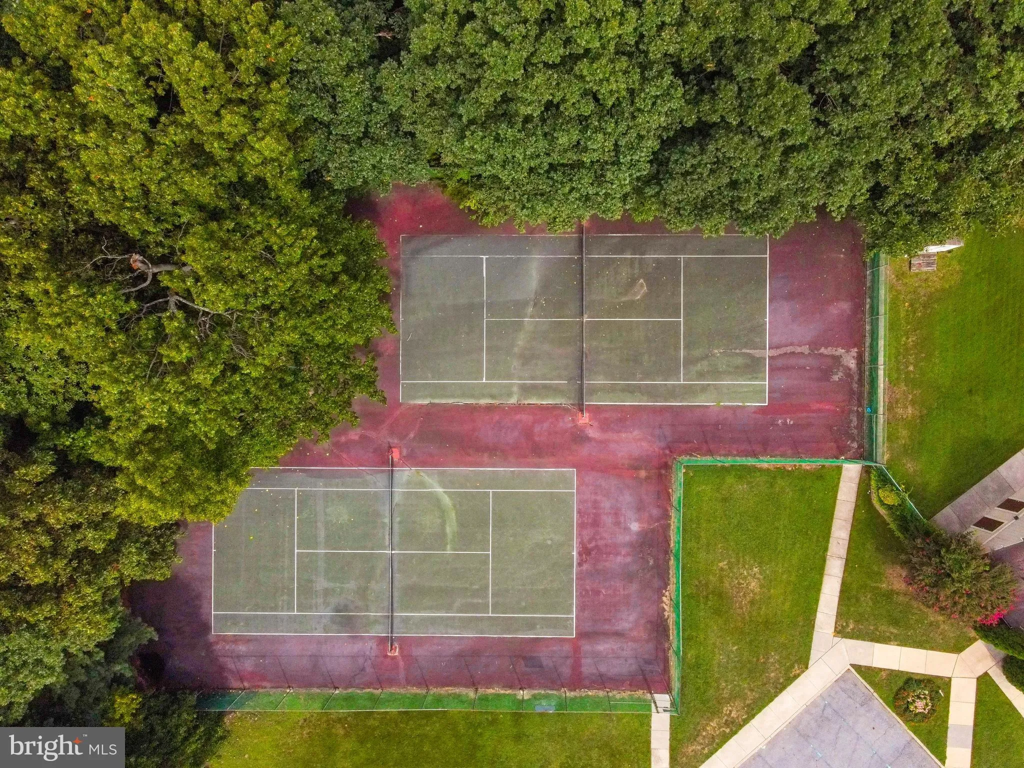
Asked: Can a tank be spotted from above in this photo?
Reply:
No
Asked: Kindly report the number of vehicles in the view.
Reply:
0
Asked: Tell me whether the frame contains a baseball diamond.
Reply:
No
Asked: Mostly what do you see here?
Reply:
trees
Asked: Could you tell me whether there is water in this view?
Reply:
No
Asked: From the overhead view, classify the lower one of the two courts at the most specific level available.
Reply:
tennis court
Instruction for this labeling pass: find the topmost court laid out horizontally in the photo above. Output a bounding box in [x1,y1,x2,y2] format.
[400,234,769,405]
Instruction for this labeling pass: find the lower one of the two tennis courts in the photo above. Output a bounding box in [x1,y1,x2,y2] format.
[212,467,576,637]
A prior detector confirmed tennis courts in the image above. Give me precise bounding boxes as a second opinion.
[212,467,576,637]
[400,234,769,405]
